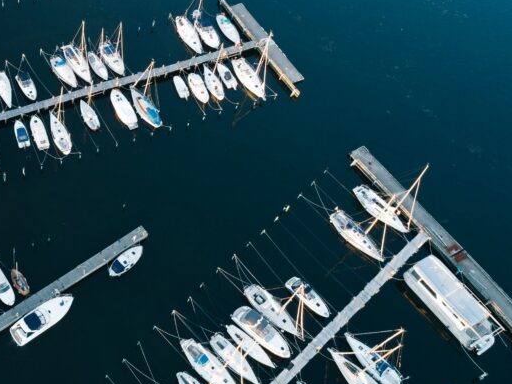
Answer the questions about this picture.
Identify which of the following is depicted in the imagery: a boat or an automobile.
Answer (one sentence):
The image shows a boat.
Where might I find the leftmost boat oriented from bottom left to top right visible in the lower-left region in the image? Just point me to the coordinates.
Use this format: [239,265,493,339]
[2,290,74,351]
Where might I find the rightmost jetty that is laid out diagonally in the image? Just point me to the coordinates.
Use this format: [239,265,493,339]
[351,146,512,328]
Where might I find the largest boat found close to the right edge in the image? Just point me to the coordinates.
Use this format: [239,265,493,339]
[402,238,509,372]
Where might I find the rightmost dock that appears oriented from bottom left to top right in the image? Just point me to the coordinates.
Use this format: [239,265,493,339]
[268,230,431,384]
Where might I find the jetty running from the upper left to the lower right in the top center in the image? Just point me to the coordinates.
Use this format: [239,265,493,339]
[229,3,304,84]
